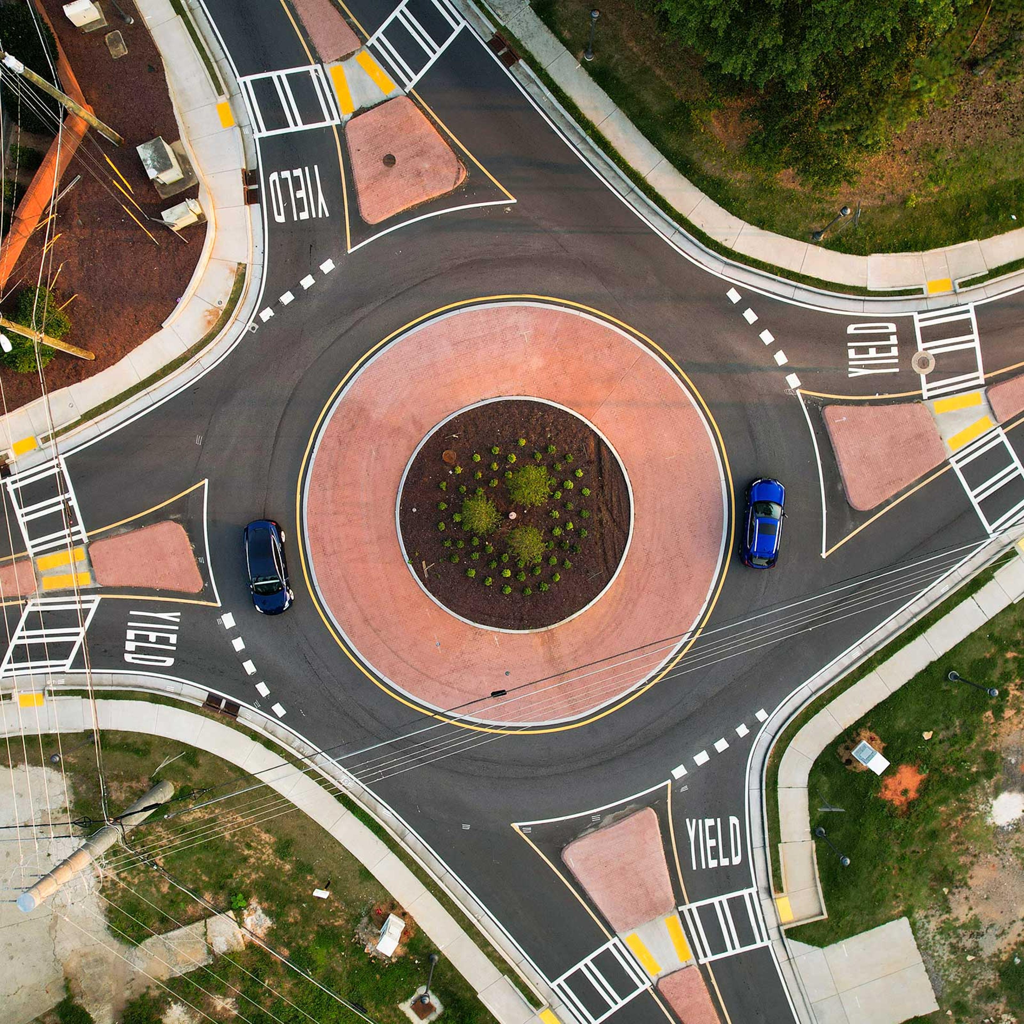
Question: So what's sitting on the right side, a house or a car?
car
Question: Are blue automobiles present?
Yes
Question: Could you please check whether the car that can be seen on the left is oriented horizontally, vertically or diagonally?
vertically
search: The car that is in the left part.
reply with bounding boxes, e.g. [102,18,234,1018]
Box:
[244,520,293,615]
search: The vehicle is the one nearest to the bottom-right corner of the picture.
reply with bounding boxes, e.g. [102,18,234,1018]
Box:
[739,478,790,569]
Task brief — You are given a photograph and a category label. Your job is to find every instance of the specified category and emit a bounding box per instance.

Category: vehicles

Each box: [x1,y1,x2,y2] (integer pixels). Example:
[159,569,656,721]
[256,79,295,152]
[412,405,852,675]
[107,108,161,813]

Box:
[739,478,790,569]
[244,520,293,615]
